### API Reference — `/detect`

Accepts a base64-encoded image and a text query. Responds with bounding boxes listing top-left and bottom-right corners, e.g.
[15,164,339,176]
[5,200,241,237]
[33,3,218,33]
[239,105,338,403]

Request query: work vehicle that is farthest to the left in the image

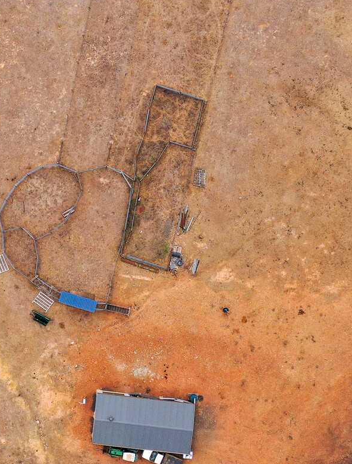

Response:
[101,446,139,463]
